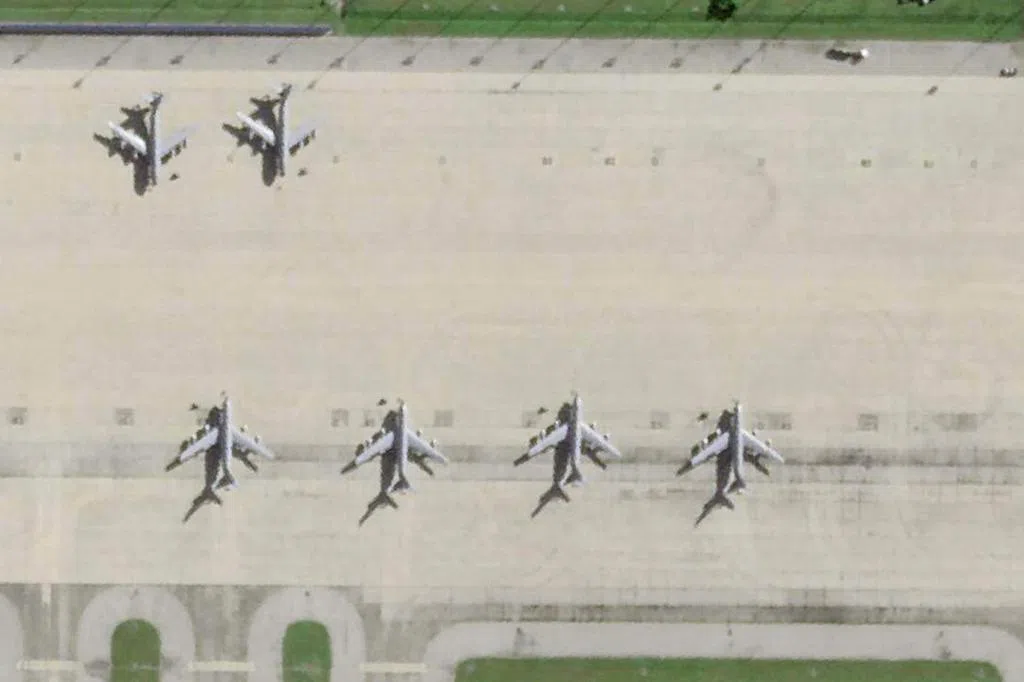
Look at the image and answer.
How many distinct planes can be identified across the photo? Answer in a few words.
6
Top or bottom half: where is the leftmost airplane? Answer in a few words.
top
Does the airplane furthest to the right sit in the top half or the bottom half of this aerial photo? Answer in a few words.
bottom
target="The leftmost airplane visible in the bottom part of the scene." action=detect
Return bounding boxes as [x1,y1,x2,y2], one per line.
[181,397,272,490]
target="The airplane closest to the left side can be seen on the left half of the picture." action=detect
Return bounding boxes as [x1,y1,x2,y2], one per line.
[110,92,201,186]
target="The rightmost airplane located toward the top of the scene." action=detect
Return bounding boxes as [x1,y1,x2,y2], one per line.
[239,83,330,176]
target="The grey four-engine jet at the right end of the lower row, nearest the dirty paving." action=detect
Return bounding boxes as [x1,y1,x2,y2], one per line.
[693,403,783,496]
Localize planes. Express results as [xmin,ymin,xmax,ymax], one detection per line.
[358,402,448,495]
[693,403,783,496]
[110,92,201,186]
[532,396,622,488]
[181,397,272,490]
[239,83,330,176]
